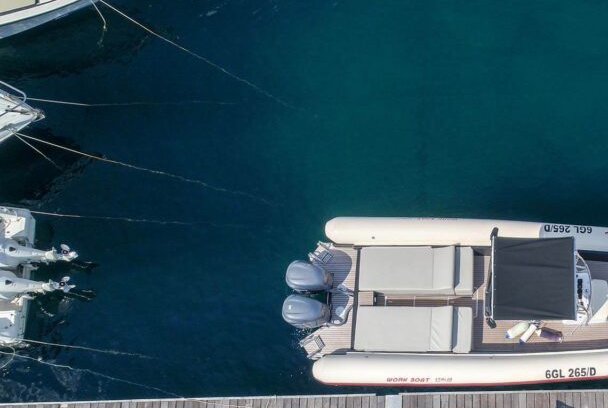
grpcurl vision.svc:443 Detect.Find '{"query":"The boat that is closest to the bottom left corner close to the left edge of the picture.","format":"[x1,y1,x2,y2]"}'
[0,210,73,347]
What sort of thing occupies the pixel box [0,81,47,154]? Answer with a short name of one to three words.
boat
